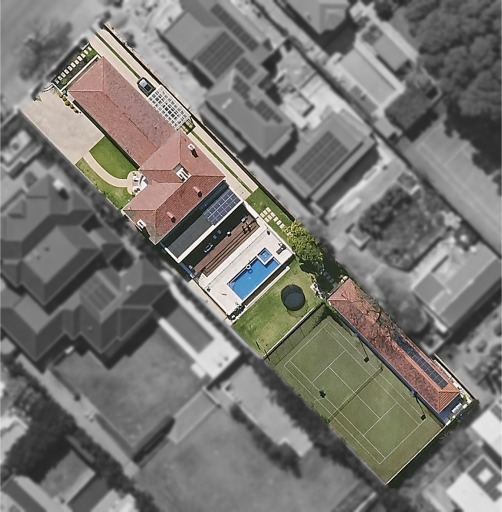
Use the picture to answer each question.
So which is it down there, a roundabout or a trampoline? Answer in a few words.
trampoline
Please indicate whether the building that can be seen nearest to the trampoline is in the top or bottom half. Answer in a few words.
bottom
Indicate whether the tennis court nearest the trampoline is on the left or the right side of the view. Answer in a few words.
right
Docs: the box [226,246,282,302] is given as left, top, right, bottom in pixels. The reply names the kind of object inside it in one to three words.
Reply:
swimming pool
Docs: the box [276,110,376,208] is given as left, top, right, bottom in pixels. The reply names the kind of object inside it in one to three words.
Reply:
house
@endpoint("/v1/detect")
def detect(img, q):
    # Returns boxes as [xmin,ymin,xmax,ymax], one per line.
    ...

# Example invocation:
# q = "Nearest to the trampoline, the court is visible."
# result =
[266,304,446,483]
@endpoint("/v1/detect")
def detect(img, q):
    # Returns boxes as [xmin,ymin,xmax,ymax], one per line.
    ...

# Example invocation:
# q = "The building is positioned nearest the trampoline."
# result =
[326,278,460,415]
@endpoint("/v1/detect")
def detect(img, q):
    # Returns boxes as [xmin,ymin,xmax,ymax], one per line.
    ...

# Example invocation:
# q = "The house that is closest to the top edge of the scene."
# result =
[287,0,351,36]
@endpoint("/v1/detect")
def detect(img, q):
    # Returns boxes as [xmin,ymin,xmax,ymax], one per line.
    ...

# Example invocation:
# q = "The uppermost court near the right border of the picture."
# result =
[407,124,502,249]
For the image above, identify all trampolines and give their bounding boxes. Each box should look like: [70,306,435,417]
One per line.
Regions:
[282,287,306,311]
